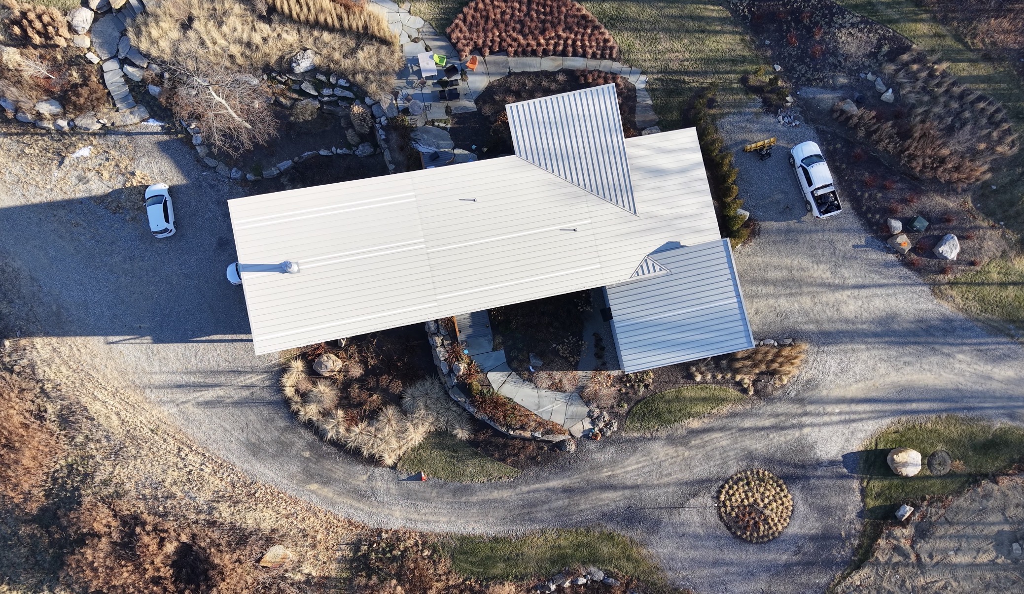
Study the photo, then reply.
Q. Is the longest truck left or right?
right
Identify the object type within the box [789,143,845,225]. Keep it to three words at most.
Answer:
truck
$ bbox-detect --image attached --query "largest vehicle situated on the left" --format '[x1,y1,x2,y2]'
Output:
[144,184,179,237]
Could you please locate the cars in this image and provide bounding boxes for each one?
[228,261,242,286]
[144,184,179,237]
